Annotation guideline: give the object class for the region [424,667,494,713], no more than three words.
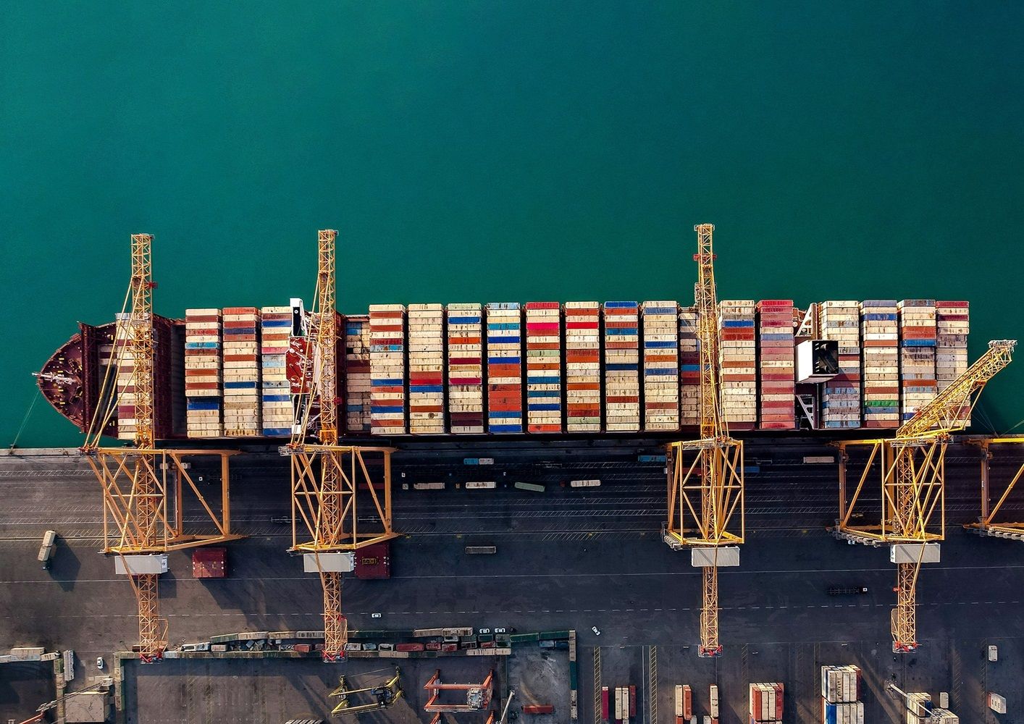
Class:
container crane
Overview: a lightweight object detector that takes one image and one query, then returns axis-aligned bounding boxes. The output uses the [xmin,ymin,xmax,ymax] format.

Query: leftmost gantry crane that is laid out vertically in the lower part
[78,232,254,661]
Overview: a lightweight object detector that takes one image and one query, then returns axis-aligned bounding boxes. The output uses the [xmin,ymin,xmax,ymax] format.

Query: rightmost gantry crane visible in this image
[957,436,1024,539]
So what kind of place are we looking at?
port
